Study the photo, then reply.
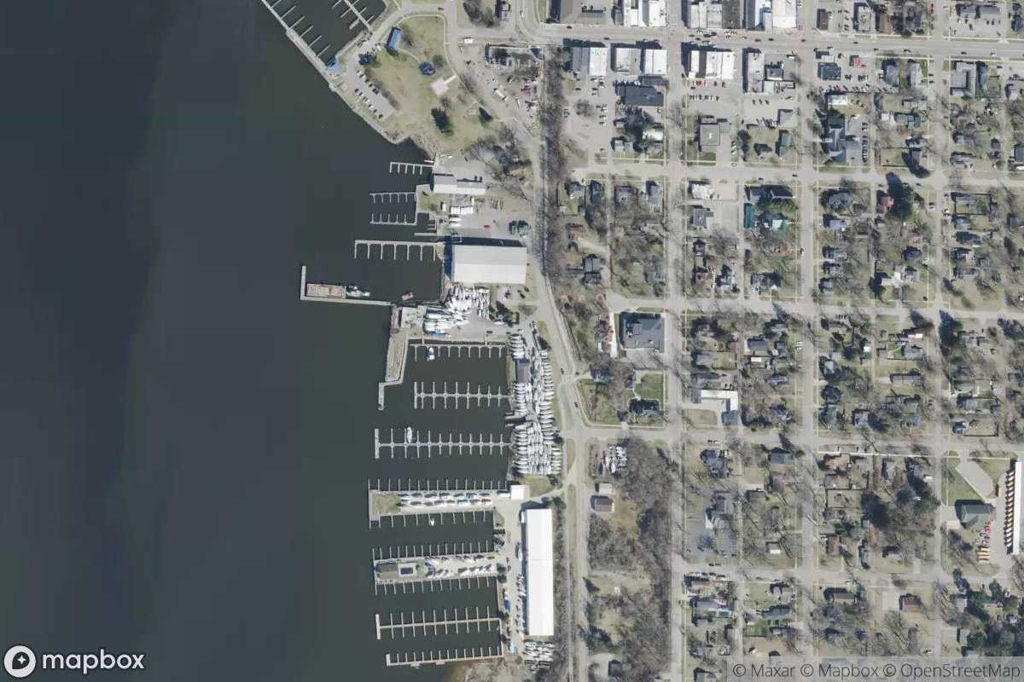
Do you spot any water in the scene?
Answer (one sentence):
Yes, the picture does contain water.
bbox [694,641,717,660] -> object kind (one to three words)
house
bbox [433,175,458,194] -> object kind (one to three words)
building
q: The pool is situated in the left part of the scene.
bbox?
[398,564,417,578]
